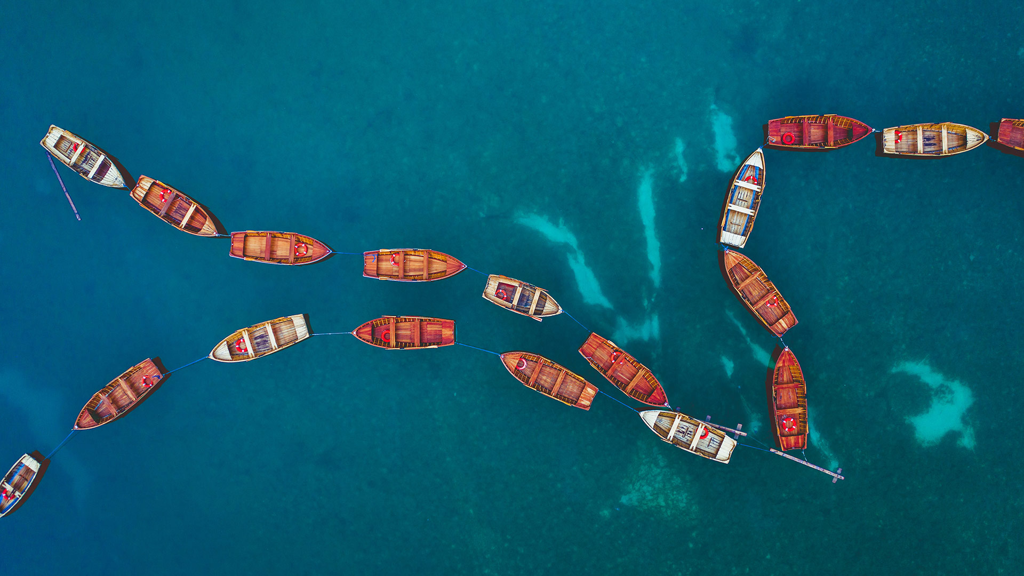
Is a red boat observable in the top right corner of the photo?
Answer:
Yes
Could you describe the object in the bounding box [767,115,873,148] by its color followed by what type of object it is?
red boat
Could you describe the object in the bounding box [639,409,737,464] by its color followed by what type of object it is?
white boat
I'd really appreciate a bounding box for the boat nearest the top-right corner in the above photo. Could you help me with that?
[993,118,1024,151]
